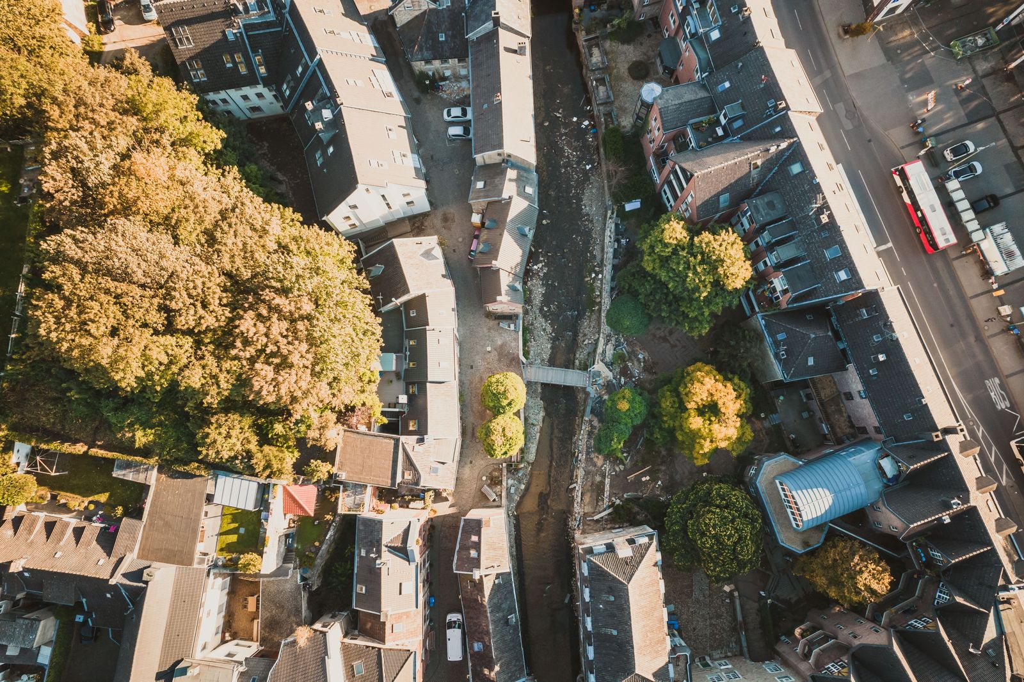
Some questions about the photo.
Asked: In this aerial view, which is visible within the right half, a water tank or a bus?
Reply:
bus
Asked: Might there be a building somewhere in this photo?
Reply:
Yes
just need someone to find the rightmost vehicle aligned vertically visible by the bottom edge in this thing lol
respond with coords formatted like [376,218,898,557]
[445,612,464,665]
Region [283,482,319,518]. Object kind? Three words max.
building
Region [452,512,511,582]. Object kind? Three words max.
house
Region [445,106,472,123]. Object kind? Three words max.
car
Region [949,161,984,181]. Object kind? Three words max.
car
